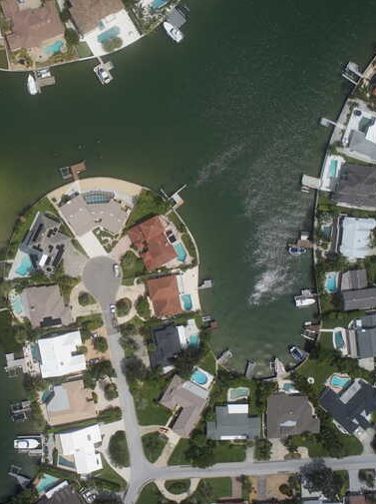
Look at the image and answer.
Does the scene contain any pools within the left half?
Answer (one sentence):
Yes, there is a pool within the left half.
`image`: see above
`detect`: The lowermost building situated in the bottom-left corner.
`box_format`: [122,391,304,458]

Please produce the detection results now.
[44,480,80,504]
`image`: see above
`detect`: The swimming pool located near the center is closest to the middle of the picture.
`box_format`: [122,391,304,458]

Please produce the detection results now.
[173,243,188,263]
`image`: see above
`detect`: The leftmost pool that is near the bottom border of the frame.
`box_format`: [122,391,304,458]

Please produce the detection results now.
[36,474,60,495]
